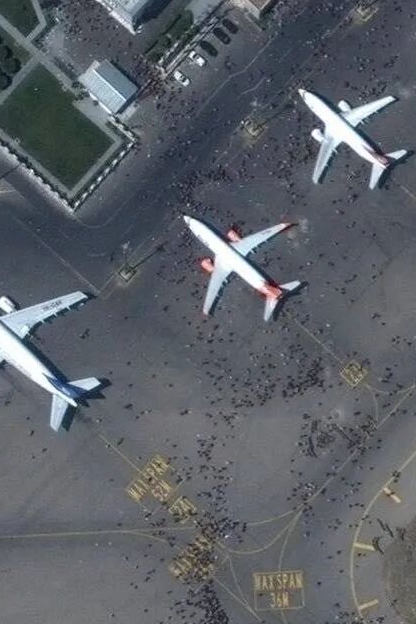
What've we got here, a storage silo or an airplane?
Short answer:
airplane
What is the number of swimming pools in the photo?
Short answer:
0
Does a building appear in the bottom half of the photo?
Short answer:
No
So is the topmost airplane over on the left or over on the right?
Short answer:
right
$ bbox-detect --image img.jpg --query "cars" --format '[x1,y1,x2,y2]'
[212,28,231,44]
[188,51,206,66]
[199,40,218,57]
[173,71,190,86]
[221,19,239,35]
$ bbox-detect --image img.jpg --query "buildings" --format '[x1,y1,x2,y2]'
[237,0,279,18]
[90,0,165,39]
[84,60,139,118]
